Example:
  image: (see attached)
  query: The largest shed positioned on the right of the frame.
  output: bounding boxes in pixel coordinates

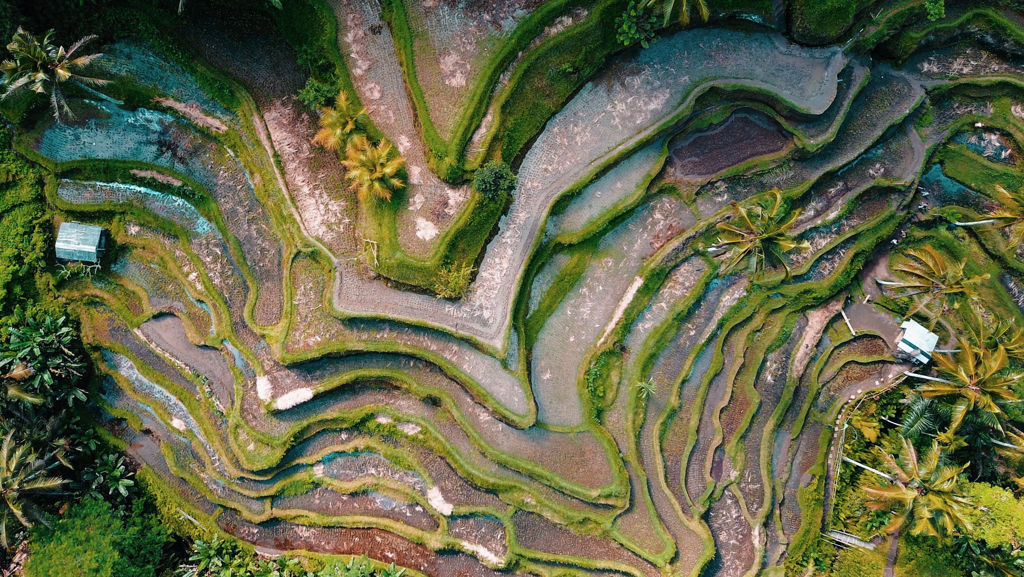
[887,319,940,364]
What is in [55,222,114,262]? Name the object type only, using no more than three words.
shed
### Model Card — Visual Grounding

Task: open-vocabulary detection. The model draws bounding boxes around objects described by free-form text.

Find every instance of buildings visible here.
[55,222,114,262]
[887,319,940,364]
